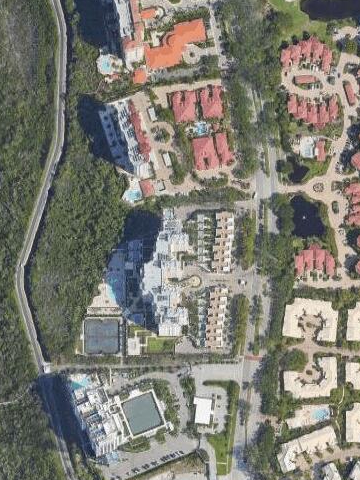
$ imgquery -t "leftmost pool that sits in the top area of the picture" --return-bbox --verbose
[96,53,119,78]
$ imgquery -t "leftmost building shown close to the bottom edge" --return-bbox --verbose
[74,380,133,459]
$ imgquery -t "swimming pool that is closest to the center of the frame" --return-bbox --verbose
[122,180,141,203]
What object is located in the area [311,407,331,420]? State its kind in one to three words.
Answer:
swimming pool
